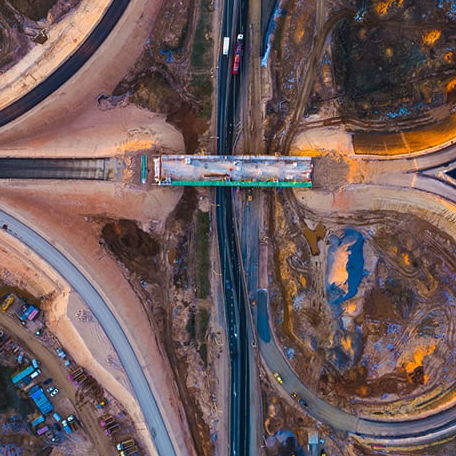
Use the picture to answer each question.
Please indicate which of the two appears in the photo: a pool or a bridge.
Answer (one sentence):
The one in the frame is a bridge.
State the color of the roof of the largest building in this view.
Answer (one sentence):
From above, the roof of the largest building looks blue.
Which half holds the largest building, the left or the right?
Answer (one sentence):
It is on the left.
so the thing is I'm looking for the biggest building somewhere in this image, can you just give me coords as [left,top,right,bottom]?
[31,384,55,414]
